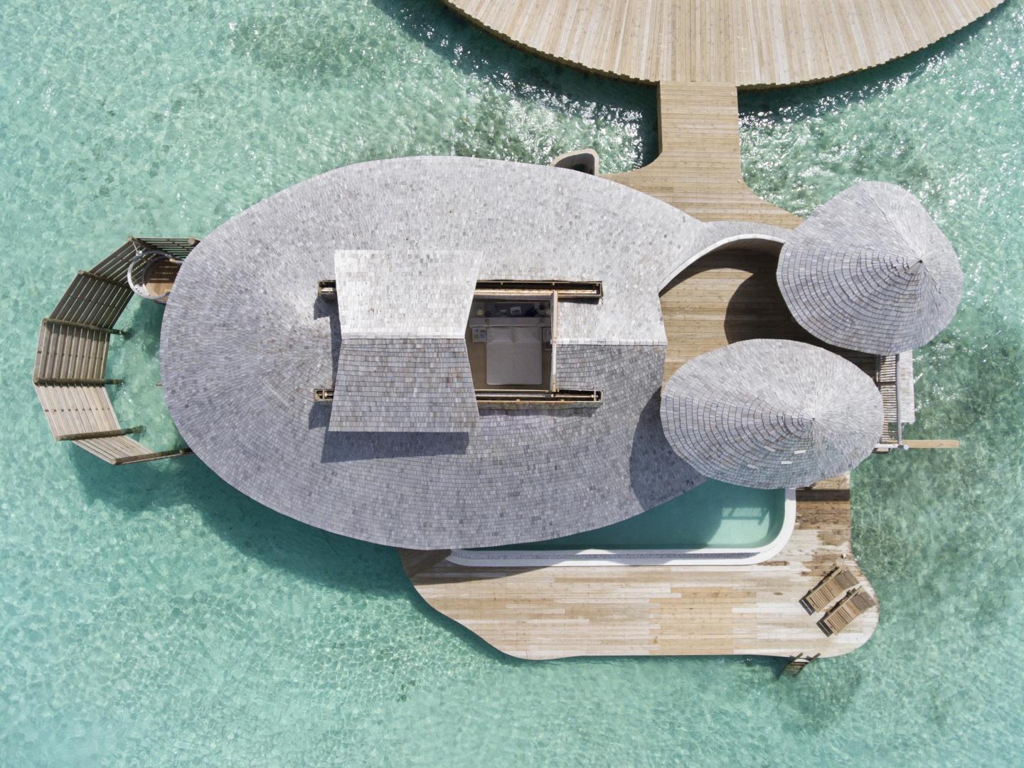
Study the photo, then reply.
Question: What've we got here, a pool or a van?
pool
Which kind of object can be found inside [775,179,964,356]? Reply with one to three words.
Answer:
building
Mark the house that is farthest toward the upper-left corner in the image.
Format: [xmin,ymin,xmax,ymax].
[159,155,706,550]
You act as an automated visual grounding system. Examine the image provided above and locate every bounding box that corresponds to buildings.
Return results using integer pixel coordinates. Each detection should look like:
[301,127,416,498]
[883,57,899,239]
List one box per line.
[775,179,964,356]
[159,155,706,550]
